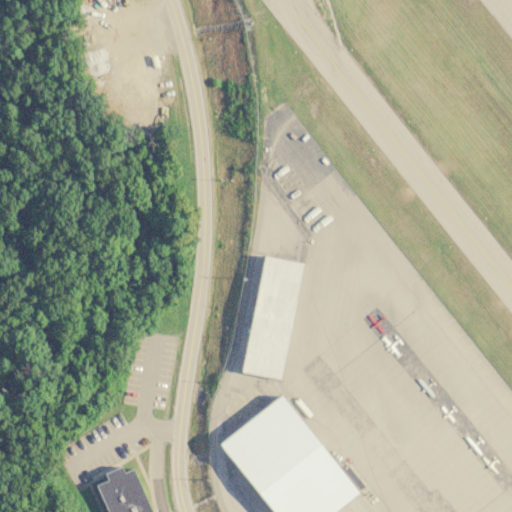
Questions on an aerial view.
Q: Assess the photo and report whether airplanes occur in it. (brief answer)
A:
Yes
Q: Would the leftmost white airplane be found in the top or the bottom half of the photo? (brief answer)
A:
bottom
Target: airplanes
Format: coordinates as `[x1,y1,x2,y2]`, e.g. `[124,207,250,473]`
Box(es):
[484,457,500,474]
[442,406,458,422]
[419,380,436,398]
[368,314,387,334]
[382,336,404,358]
[466,436,484,456]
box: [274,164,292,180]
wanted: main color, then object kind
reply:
white vehicle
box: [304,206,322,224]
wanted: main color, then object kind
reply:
white vehicle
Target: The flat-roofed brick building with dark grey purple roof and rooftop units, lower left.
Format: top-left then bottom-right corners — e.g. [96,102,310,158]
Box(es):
[98,468,153,512]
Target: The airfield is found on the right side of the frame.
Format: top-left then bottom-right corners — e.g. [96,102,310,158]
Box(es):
[210,0,512,512]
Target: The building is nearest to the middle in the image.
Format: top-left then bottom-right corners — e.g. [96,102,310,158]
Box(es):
[242,258,304,379]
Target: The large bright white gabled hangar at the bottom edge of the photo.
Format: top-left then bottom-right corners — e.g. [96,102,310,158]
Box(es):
[221,397,360,512]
